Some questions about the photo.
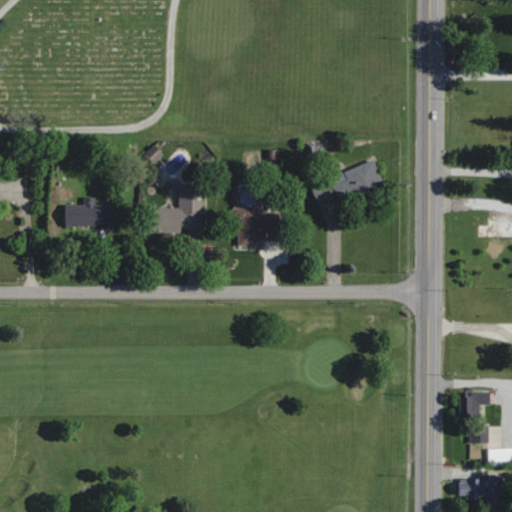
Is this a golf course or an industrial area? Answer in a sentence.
The picture captures a golf course.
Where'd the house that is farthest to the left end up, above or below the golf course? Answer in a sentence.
From this view, the house that is farthest to the left can be seen above the golf course.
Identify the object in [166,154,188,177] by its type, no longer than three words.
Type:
swimming pool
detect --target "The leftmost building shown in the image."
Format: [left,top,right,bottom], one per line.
[64,198,96,228]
